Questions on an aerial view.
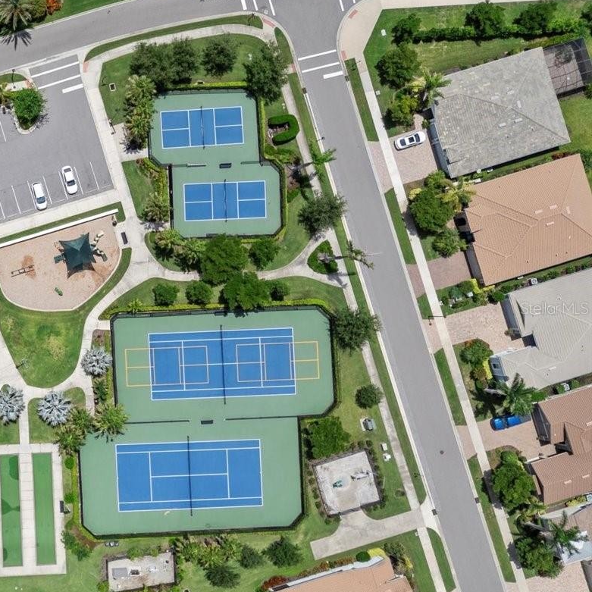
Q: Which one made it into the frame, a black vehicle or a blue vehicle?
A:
blue vehicle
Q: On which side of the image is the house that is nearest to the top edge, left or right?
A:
right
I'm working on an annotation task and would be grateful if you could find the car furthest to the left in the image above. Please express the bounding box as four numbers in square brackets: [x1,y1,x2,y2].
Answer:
[31,182,47,212]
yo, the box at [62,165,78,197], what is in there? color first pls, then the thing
white car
